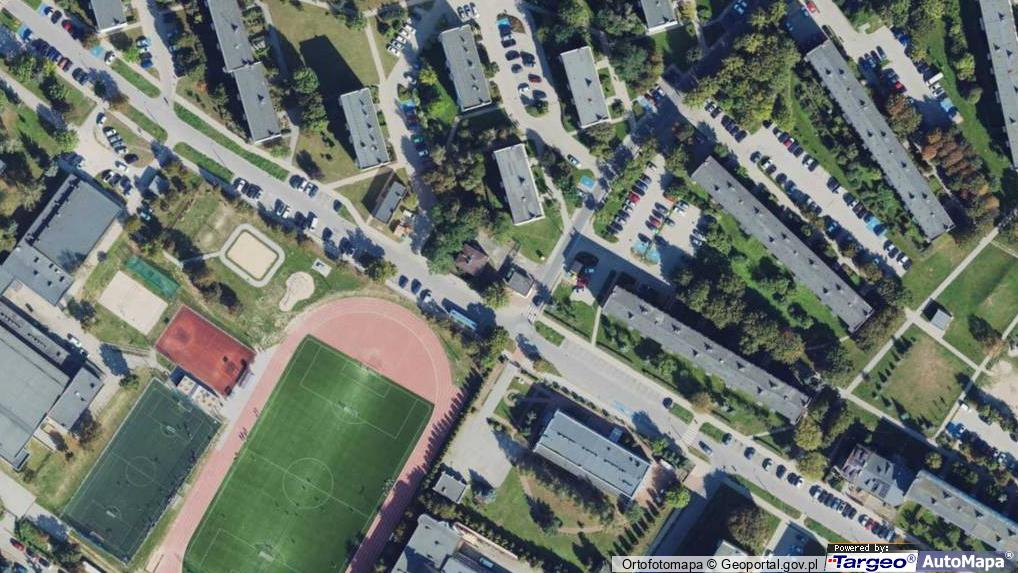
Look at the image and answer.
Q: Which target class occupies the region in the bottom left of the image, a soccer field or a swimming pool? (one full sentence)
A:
There is a soccer field in the bottom left of the image.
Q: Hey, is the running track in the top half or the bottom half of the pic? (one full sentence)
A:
The running track is in the bottom half of the image.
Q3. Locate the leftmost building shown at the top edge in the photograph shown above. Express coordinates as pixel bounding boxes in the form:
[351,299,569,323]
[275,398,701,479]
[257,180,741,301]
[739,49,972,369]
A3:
[90,0,128,33]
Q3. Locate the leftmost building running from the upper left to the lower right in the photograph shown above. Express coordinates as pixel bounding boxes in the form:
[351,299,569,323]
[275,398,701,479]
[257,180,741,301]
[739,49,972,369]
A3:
[0,302,72,367]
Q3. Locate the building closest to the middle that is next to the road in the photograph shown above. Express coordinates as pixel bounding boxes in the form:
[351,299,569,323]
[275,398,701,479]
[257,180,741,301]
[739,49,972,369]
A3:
[503,267,535,297]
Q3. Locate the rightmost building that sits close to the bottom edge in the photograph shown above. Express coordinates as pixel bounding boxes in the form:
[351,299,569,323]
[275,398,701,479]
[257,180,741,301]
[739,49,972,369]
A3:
[904,471,1018,564]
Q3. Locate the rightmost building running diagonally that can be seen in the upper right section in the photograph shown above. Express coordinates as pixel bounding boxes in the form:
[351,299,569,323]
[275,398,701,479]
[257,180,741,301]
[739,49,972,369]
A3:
[805,39,955,243]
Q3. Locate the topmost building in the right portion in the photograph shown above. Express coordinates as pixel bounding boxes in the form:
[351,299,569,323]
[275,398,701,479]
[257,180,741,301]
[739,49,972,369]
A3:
[635,0,677,32]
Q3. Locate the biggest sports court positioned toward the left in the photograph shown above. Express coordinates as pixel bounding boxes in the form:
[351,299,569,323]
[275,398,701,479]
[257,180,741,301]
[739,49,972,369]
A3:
[156,305,254,397]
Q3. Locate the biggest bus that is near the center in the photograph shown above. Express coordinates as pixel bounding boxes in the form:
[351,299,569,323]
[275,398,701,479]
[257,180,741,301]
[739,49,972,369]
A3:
[450,309,478,331]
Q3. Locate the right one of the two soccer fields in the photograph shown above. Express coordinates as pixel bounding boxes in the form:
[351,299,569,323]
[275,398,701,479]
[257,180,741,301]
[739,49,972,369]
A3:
[185,334,434,573]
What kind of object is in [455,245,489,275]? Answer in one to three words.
house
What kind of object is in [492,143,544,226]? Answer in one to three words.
building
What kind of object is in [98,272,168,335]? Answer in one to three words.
sports court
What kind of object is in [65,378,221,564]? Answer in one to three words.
soccer field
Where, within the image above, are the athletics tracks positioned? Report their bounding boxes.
[151,295,455,573]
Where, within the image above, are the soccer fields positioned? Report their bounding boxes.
[65,378,221,564]
[185,334,434,573]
